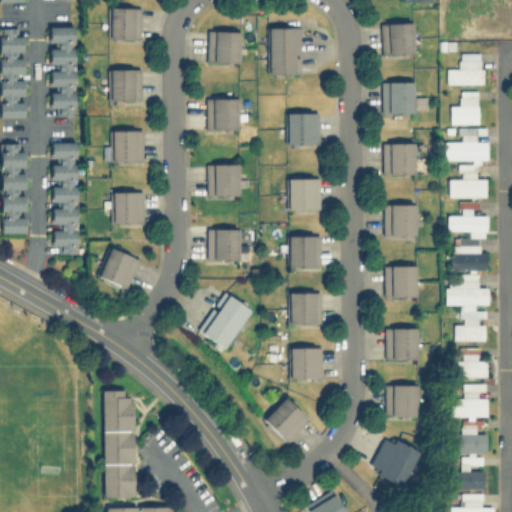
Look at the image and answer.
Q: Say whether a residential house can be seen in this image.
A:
Yes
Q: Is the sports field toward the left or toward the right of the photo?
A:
left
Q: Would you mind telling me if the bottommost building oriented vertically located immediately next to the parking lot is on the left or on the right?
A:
left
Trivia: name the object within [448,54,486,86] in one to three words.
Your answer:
house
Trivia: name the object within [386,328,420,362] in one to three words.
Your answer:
house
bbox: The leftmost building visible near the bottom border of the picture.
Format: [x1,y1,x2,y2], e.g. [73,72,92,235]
[104,390,136,499]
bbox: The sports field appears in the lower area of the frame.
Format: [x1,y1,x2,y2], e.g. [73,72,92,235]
[0,304,79,512]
